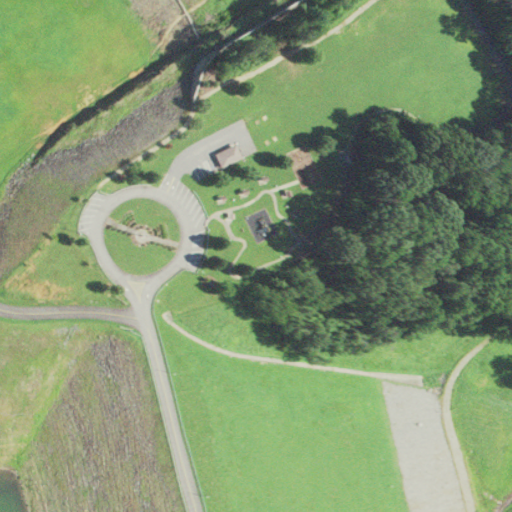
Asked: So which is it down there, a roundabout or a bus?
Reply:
roundabout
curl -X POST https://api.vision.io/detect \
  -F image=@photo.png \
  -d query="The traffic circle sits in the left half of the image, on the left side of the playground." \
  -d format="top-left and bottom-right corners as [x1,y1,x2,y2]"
[78,119,256,316]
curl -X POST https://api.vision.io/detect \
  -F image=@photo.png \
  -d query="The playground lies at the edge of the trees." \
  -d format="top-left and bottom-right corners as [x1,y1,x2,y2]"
[246,209,276,243]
